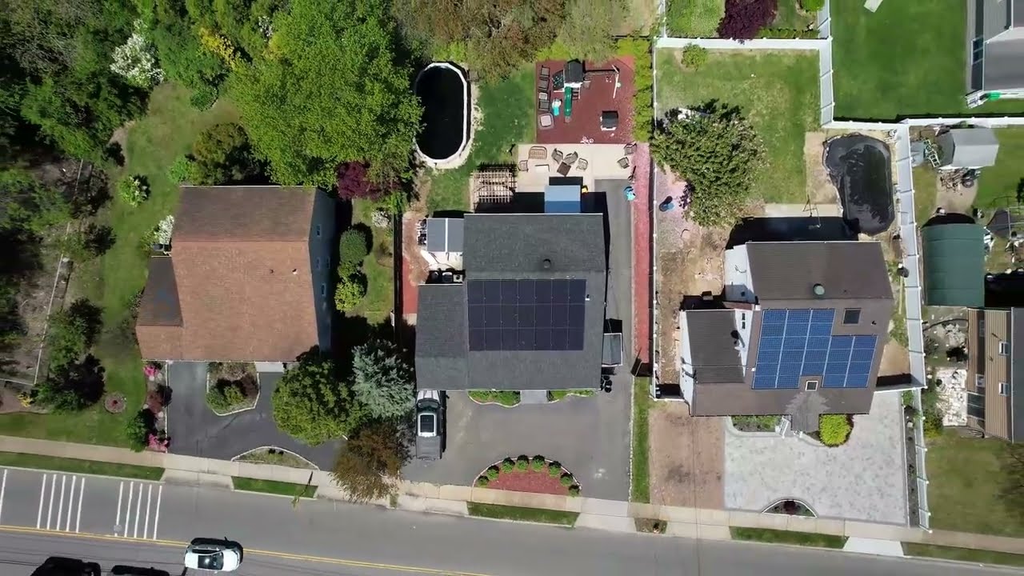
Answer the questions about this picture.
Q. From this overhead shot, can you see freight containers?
No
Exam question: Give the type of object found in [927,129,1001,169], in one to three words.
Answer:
shed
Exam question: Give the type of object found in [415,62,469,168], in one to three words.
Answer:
swimming pool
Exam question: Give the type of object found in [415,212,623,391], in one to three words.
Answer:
house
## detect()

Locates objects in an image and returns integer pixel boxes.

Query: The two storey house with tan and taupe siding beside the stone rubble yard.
[966,307,1024,450]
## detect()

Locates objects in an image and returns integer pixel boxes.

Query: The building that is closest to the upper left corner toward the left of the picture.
[132,185,329,363]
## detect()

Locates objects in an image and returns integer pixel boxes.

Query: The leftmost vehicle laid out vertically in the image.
[414,391,445,460]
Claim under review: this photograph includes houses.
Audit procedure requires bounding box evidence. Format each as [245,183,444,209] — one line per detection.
[415,212,623,391]
[132,185,329,363]
[683,240,904,433]
[972,0,1024,95]
[966,307,1024,450]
